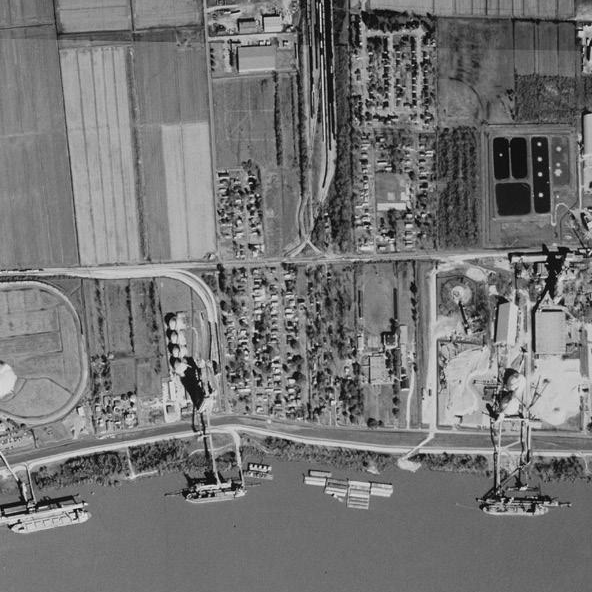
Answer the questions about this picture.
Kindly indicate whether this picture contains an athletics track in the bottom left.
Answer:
No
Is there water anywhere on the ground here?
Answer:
Yes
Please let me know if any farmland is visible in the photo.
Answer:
Yes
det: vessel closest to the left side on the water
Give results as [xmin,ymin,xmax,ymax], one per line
[12,506,92,531]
